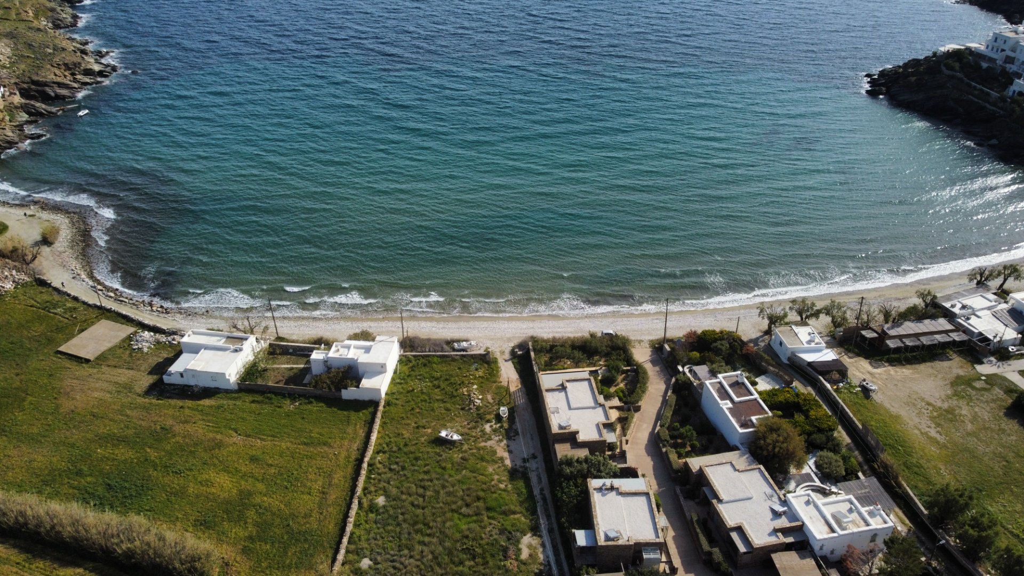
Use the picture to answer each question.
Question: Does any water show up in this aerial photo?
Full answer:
Yes, water shows up in the scene.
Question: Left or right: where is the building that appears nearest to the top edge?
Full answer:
The building that appears nearest to the top edge is on the right side of the image.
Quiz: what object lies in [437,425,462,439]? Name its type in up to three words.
boat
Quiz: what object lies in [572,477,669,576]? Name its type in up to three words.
house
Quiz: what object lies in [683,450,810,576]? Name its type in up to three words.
house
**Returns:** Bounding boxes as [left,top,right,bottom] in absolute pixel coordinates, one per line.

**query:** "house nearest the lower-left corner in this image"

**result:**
[162,330,265,388]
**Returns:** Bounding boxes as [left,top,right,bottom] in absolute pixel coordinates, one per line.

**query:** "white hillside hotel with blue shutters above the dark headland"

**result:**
[972,16,1024,76]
